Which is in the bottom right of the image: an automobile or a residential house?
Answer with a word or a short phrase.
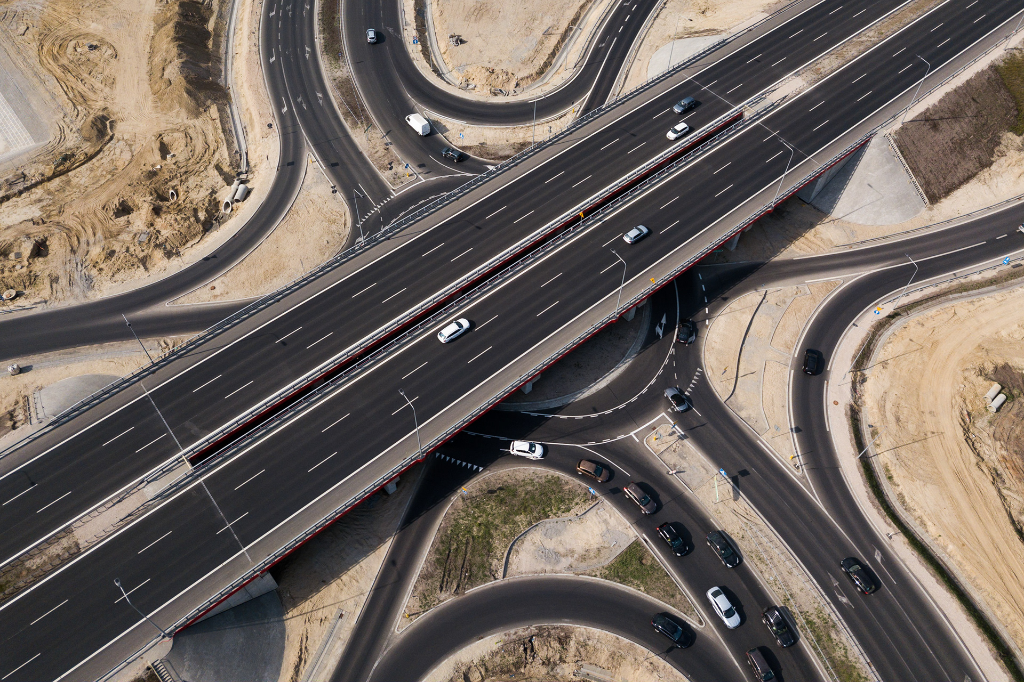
automobile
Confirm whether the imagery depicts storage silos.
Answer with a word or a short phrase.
No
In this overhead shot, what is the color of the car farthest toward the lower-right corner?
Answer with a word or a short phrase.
black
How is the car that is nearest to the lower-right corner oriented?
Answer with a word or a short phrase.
at an angle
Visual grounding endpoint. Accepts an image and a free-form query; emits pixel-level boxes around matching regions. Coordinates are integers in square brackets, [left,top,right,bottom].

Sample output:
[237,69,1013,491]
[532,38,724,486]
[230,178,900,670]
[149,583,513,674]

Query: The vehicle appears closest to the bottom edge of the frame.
[743,646,778,682]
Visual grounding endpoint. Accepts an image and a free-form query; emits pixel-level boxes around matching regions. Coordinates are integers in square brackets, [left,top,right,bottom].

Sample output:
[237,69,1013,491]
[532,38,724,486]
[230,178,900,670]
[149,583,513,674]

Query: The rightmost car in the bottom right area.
[838,558,877,597]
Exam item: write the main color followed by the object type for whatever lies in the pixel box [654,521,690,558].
black car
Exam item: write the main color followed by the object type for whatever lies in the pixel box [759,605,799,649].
black car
